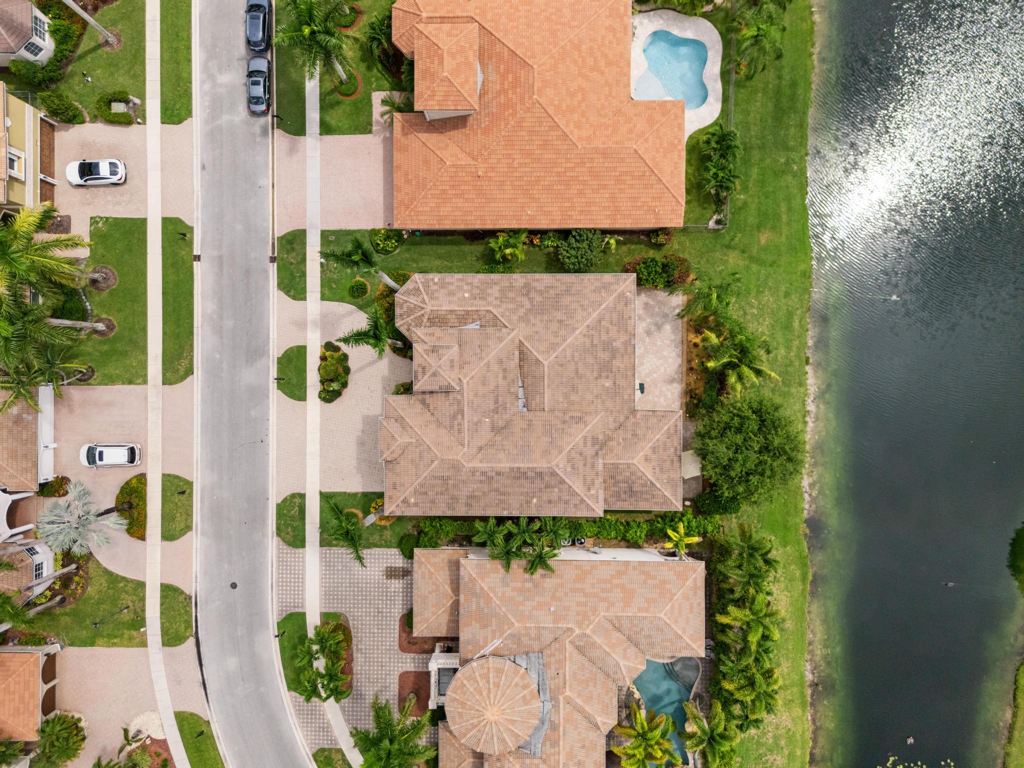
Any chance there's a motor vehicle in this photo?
Yes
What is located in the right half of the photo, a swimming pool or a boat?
swimming pool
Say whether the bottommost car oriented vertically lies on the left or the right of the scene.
left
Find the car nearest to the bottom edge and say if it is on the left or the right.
left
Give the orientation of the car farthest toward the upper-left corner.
horizontally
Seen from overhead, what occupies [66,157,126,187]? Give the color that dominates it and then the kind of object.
white car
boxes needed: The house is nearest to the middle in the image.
[377,271,684,518]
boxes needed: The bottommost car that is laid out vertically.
[244,58,273,118]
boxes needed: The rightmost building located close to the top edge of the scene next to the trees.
[390,0,687,230]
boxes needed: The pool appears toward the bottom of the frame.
[631,656,702,768]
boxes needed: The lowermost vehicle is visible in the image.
[80,441,142,470]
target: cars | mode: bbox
[66,157,126,187]
[80,441,142,470]
[243,0,274,58]
[244,58,273,118]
